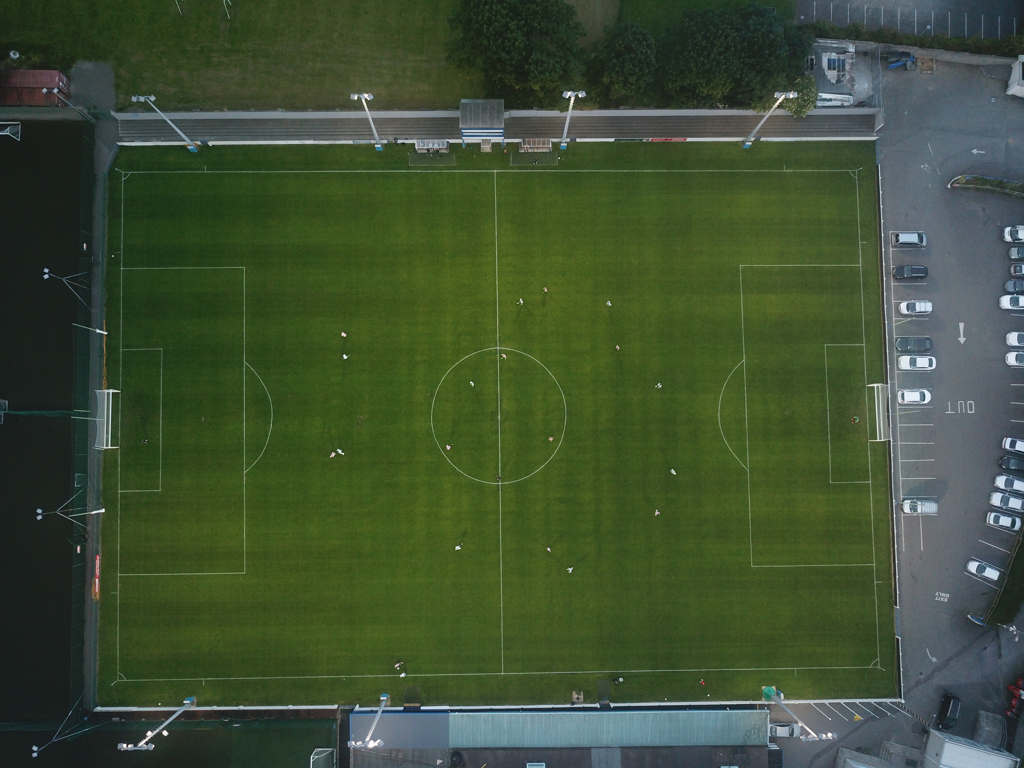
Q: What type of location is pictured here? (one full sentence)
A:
This looks like a sports ground.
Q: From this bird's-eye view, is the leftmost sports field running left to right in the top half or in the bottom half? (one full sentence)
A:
Seen from above, the leftmost sports field running left to right lies in the bottom half of the view.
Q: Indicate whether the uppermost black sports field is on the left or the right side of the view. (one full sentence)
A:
The uppermost black sports field sits on the left side.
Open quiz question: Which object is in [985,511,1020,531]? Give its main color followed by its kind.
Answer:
white car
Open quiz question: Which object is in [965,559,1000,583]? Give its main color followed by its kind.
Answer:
white car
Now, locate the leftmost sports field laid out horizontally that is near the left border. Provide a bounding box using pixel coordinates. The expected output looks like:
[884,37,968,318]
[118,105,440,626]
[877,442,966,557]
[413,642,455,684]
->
[0,719,338,768]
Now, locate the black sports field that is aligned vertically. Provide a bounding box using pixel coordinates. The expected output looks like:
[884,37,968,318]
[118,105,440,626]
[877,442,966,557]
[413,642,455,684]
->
[0,120,95,735]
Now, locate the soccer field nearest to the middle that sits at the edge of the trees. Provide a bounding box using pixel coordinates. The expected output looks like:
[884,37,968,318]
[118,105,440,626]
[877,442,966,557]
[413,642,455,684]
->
[97,140,899,706]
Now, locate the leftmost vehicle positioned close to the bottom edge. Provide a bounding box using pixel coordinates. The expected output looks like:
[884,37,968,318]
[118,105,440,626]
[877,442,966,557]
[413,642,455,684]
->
[768,721,802,739]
